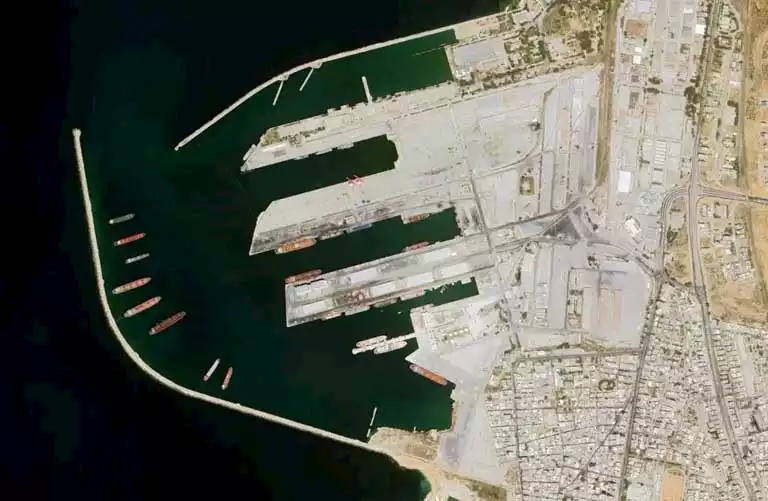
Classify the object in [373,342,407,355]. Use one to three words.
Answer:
ship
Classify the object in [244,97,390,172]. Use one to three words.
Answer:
pier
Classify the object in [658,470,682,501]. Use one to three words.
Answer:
sports field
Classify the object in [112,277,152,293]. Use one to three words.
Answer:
ship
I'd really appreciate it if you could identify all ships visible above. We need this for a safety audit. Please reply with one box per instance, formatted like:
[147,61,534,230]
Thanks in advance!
[204,359,219,380]
[400,291,426,301]
[284,269,321,283]
[222,368,232,389]
[356,335,387,346]
[114,233,146,244]
[323,314,342,322]
[112,277,152,293]
[123,296,162,317]
[337,144,354,152]
[412,304,433,312]
[374,299,398,308]
[344,307,370,316]
[346,224,372,233]
[320,232,344,240]
[275,240,317,255]
[148,311,186,335]
[405,242,430,252]
[410,364,447,385]
[403,213,430,223]
[125,254,149,262]
[110,214,135,223]
[373,342,407,355]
